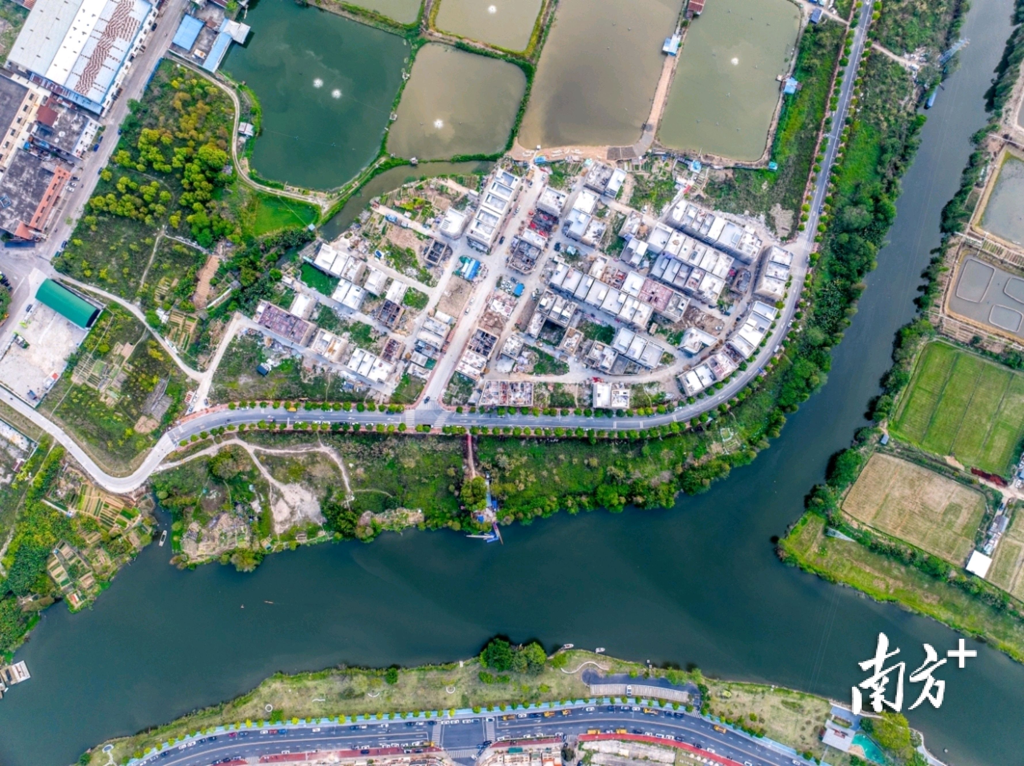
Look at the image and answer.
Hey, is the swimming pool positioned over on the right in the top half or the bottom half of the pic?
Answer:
bottom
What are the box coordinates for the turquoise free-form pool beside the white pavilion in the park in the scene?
[851,733,885,765]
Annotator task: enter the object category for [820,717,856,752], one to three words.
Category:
shed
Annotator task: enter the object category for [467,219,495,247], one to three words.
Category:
house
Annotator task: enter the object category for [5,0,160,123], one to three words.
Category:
building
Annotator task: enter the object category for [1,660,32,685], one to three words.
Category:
ship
